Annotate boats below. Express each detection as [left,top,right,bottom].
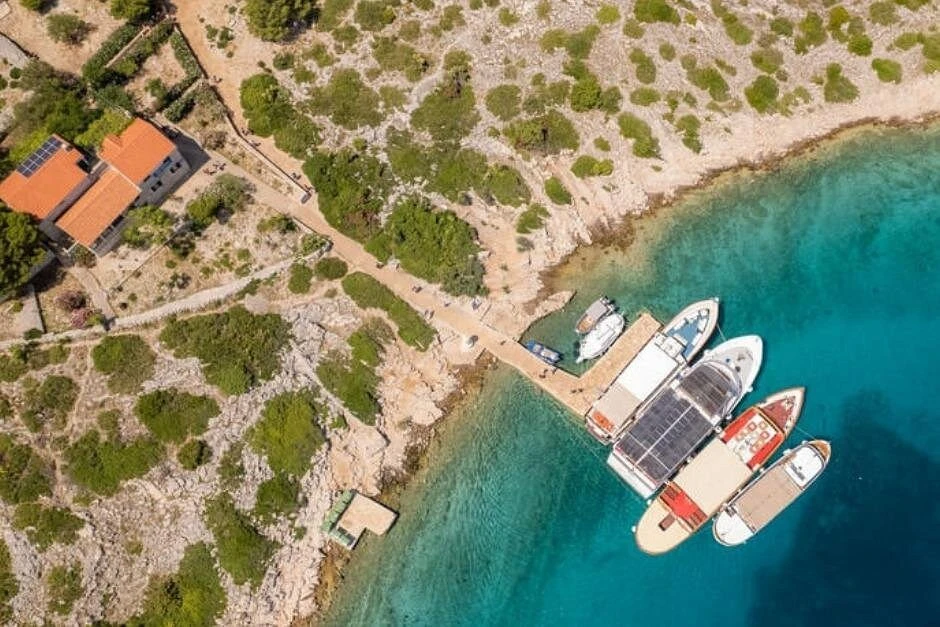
[576,309,627,362]
[707,440,834,547]
[607,336,765,499]
[628,386,805,547]
[584,295,722,447]
[525,341,561,364]
[574,294,616,331]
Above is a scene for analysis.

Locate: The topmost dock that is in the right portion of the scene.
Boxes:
[476,313,661,416]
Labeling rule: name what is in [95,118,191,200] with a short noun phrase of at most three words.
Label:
house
